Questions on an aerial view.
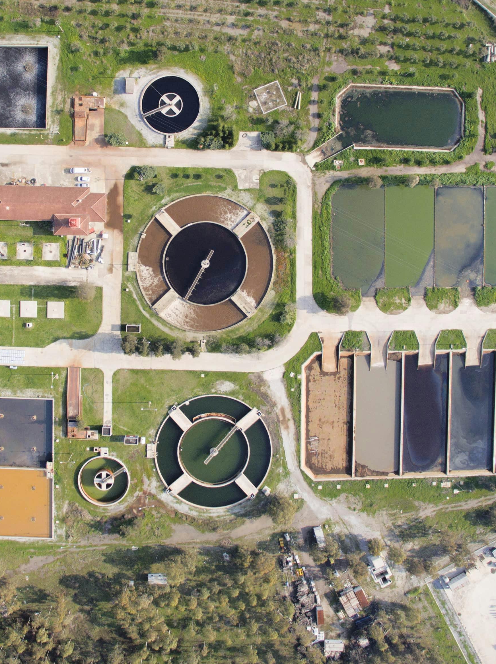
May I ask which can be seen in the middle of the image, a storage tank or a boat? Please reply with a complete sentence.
There is a storage tank in the middle of the image.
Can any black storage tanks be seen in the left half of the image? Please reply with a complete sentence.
Yes, there is a black storage tank in the left half of the image.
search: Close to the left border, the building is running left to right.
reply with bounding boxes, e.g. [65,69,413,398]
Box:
[0,185,108,235]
